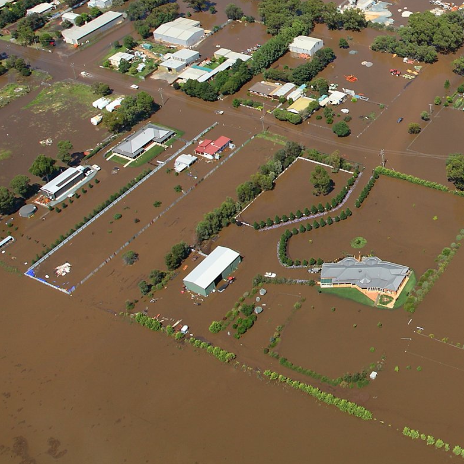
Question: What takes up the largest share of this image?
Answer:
water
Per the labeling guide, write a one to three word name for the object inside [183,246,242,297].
barn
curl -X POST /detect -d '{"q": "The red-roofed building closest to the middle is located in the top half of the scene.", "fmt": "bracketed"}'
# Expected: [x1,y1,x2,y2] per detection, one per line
[194,134,231,159]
